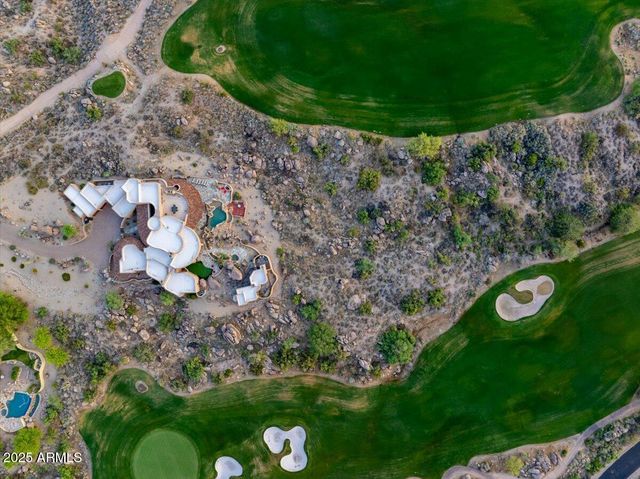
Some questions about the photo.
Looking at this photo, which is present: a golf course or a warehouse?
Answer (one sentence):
It is a golf course that can be seen here.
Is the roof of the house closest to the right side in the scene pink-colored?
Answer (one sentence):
No, the color of the roof of the house closest to the right side is white.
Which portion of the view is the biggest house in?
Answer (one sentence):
You can find the biggest house in the left area of the picture.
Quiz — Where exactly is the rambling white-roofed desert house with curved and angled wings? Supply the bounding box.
[64,178,206,297]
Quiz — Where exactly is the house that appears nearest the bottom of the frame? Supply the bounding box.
[233,265,269,305]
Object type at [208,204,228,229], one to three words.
swimming pool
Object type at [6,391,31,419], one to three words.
swimming pool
